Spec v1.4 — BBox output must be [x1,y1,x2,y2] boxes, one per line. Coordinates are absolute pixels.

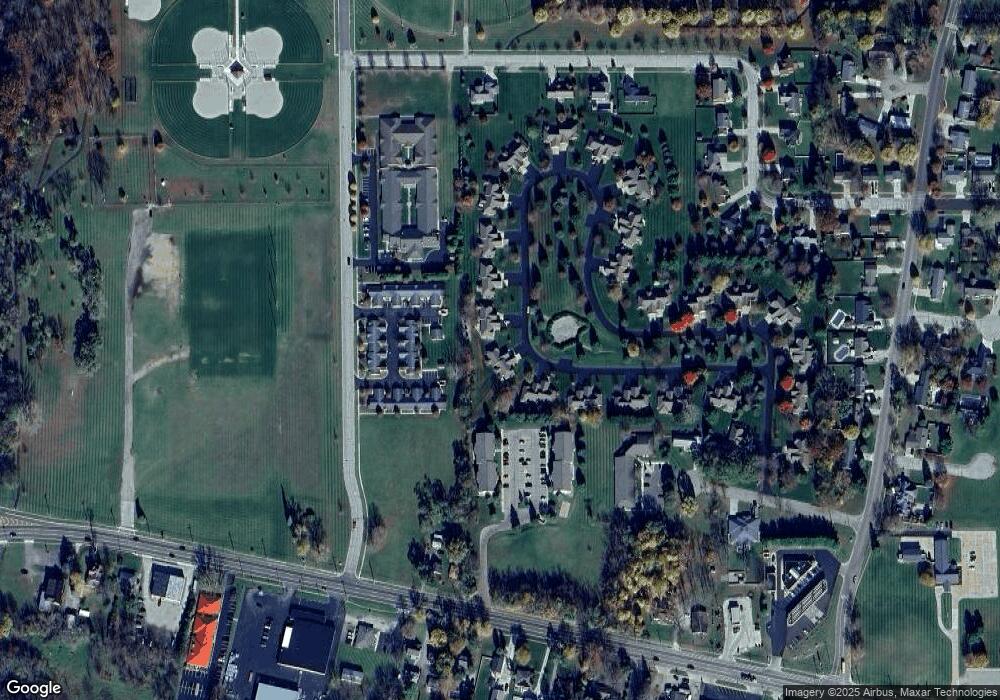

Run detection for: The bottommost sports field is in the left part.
[189,228,276,377]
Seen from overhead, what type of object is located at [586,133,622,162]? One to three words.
house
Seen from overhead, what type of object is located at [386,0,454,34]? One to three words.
baseball field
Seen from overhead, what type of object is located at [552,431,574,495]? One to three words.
building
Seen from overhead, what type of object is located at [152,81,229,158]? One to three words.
baseball field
